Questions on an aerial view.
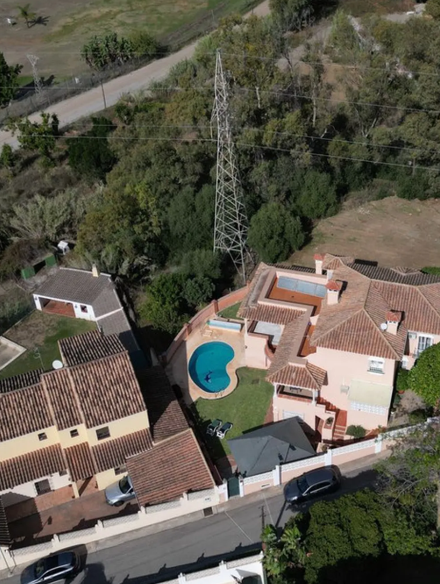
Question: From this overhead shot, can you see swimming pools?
Yes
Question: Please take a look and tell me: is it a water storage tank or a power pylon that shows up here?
power pylon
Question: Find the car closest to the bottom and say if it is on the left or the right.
left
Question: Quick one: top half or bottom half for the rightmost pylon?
top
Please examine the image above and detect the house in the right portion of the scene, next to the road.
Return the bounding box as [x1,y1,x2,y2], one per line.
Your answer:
[236,251,440,429]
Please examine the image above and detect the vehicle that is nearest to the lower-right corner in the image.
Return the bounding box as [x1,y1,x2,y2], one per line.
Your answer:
[282,461,345,503]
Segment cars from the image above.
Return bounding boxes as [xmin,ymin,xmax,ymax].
[99,473,137,507]
[282,461,345,503]
[17,542,85,584]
